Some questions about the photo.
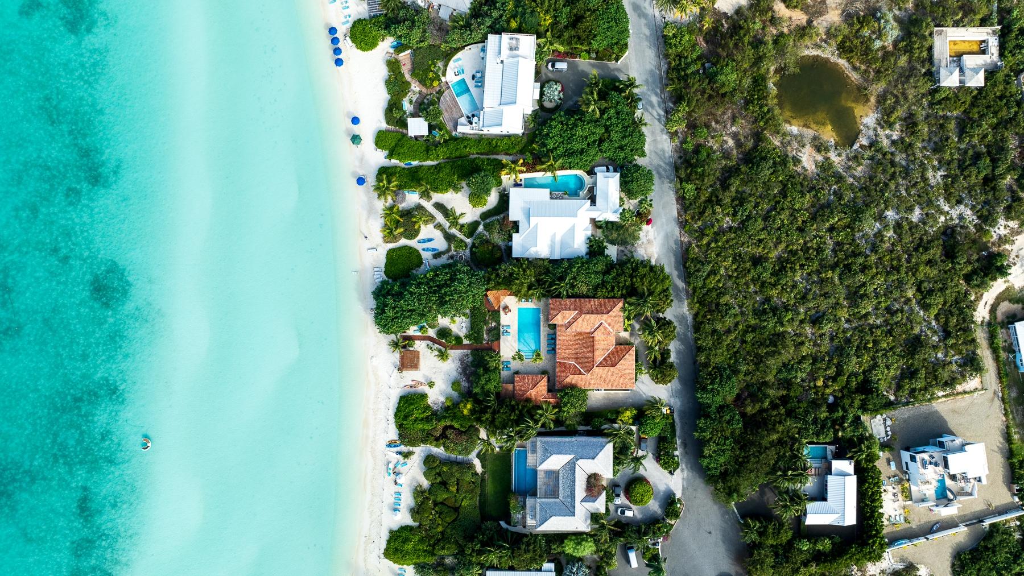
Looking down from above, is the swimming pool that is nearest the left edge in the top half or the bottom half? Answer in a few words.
top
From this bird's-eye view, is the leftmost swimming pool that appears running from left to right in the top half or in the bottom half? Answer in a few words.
top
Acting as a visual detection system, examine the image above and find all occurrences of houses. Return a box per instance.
[526,436,613,531]
[1008,320,1024,373]
[928,26,1004,89]
[457,33,540,136]
[549,298,635,392]
[509,172,623,259]
[431,0,472,22]
[486,563,555,576]
[900,430,989,516]
[802,459,857,526]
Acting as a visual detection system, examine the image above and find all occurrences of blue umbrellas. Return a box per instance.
[331,37,340,46]
[357,177,366,186]
[329,27,338,36]
[333,47,343,57]
[335,58,344,67]
[351,116,360,125]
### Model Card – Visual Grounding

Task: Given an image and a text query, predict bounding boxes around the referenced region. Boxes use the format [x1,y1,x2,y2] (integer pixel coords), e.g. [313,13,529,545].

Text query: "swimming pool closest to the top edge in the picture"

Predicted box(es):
[448,75,481,117]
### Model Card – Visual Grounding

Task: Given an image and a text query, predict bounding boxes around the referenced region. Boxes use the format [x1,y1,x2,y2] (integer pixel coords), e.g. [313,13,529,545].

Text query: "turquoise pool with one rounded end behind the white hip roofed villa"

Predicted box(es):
[523,173,586,197]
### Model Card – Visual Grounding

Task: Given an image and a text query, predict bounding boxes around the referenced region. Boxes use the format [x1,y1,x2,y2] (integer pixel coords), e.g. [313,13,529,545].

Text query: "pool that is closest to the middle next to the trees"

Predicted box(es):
[517,307,542,361]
